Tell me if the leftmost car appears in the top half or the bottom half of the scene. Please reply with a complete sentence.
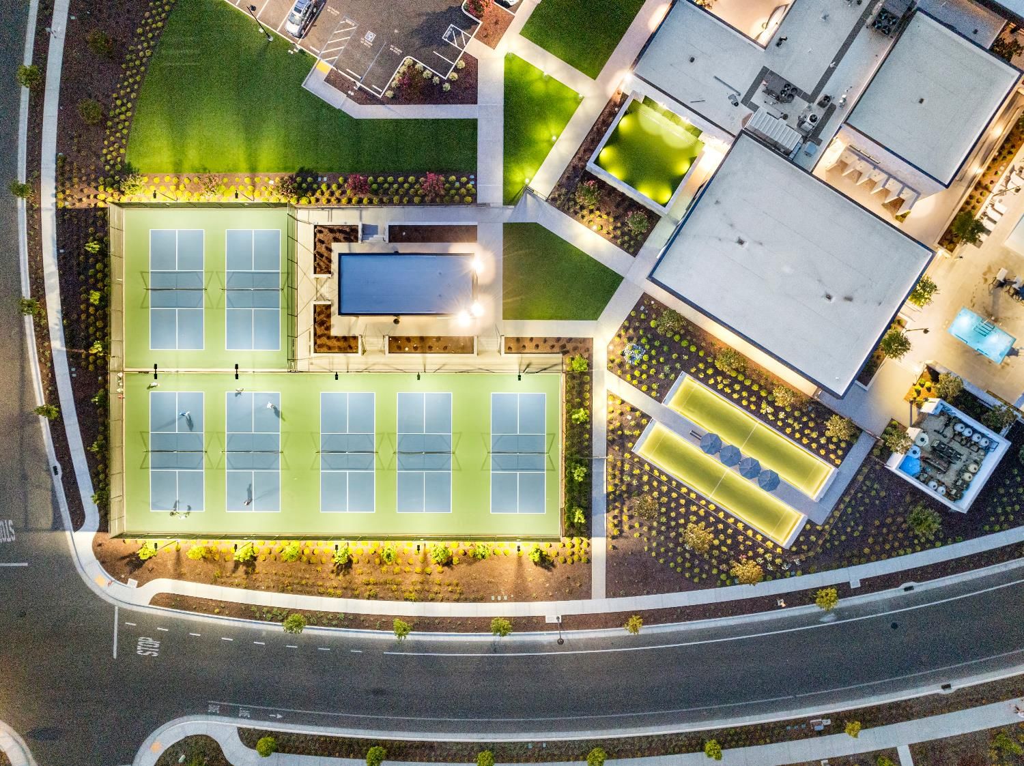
The leftmost car is in the top half of the image.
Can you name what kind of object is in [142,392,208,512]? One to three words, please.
sports court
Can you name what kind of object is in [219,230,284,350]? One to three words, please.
sports court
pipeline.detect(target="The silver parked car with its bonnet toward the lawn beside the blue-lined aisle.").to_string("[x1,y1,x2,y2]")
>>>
[289,0,320,33]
